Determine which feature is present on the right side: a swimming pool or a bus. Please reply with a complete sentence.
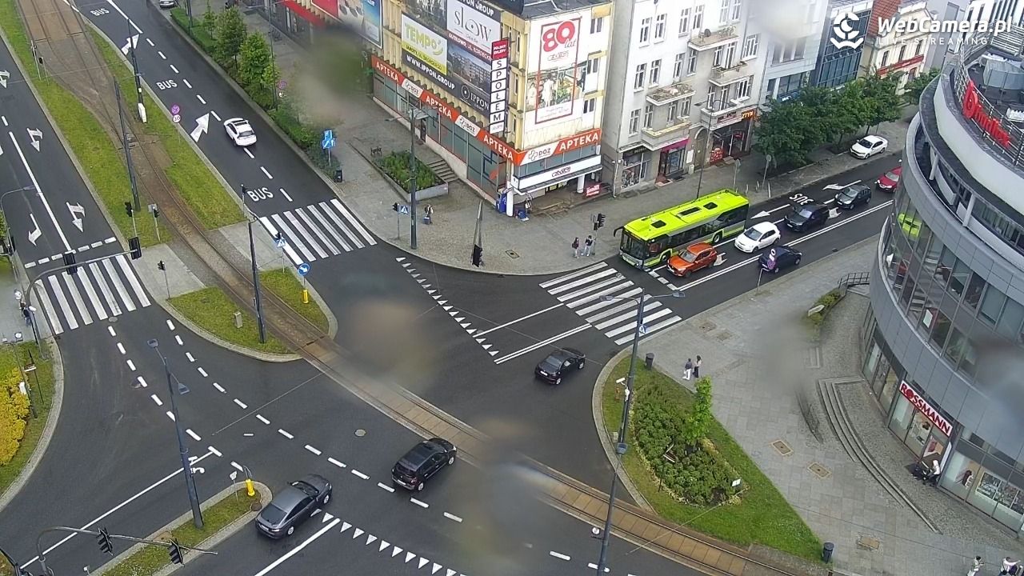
What appears on the right side is a bus.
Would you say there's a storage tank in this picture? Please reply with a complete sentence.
No, the scene contains no storage tank.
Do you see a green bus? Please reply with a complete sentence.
Yes, there is a green bus in the image.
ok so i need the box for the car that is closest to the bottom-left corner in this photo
[256,475,336,540]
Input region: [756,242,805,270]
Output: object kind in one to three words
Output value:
car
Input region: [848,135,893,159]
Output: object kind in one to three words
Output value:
car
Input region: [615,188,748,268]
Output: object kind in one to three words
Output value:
bus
